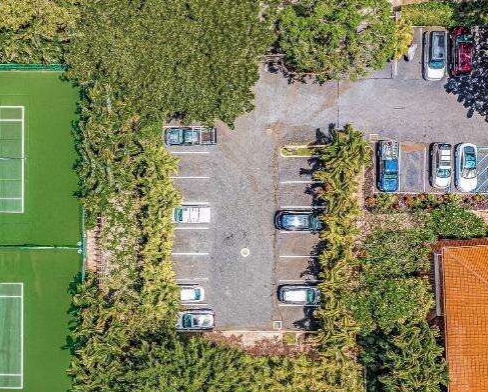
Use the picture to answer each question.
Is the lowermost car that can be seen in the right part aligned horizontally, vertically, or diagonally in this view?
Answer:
horizontally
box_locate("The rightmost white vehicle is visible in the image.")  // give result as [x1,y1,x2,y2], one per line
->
[454,145,479,191]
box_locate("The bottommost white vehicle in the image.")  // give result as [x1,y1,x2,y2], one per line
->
[177,309,217,330]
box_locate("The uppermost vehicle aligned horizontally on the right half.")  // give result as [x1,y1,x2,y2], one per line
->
[274,210,323,232]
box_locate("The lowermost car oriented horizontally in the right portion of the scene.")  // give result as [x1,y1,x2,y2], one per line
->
[276,286,322,307]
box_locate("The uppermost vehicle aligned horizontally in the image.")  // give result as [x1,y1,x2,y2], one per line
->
[164,125,217,146]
